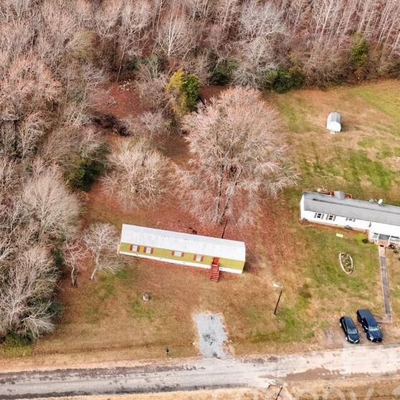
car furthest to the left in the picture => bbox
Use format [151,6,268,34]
[339,315,361,342]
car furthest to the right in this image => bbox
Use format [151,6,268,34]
[359,310,382,341]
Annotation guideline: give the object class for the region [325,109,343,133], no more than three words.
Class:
shed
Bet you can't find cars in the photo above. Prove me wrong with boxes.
[339,315,361,342]
[359,310,382,341]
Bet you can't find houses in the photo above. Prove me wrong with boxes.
[299,189,400,249]
[118,223,246,281]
